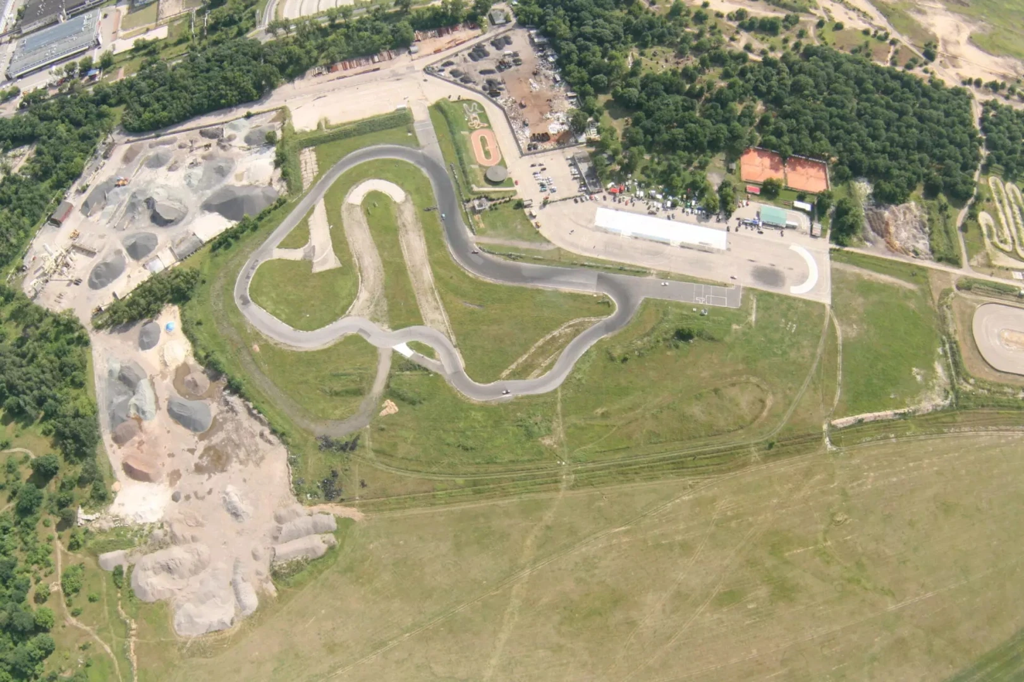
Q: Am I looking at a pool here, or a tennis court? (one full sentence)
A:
The one in the frame is a tennis court.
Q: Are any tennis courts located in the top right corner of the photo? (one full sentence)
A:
Yes, a tennis court shows up in the top right corner of the photo.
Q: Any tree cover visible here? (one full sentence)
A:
Yes, tree cover shows up in the scene.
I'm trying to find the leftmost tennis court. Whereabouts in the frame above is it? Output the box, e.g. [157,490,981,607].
[742,150,783,180]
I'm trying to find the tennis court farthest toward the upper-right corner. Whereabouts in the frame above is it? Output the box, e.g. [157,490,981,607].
[786,158,828,190]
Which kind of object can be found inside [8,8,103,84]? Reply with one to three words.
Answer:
building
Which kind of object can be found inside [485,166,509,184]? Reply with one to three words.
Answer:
building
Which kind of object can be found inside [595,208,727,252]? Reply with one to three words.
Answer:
tent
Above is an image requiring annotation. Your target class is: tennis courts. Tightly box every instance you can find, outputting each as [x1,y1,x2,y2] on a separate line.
[742,150,783,180]
[786,158,828,190]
